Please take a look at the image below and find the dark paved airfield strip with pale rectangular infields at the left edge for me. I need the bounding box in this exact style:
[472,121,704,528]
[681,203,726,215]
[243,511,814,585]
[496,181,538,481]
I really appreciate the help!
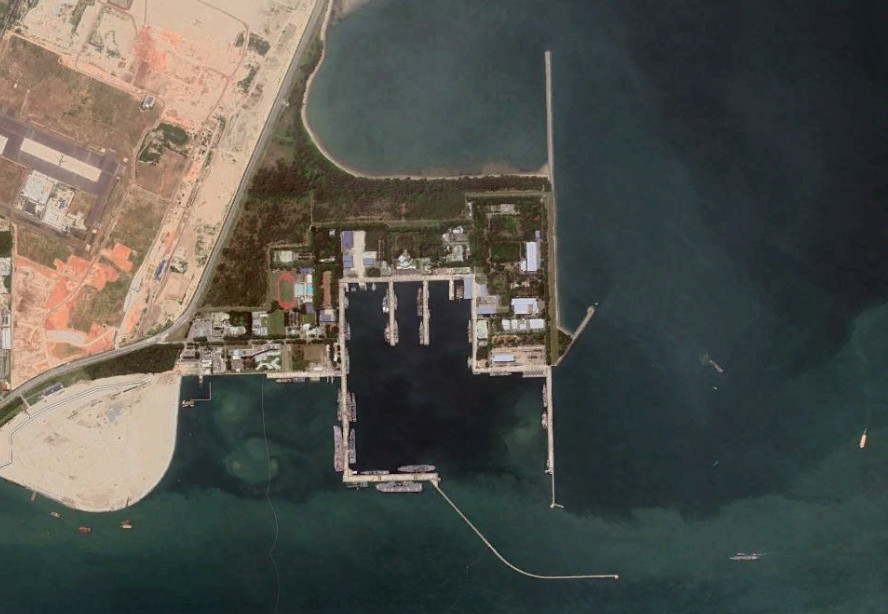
[0,113,118,229]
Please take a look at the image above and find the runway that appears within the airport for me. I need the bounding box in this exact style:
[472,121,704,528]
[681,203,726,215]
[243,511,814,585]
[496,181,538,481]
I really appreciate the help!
[0,113,117,193]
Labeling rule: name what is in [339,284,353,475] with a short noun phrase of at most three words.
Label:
pier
